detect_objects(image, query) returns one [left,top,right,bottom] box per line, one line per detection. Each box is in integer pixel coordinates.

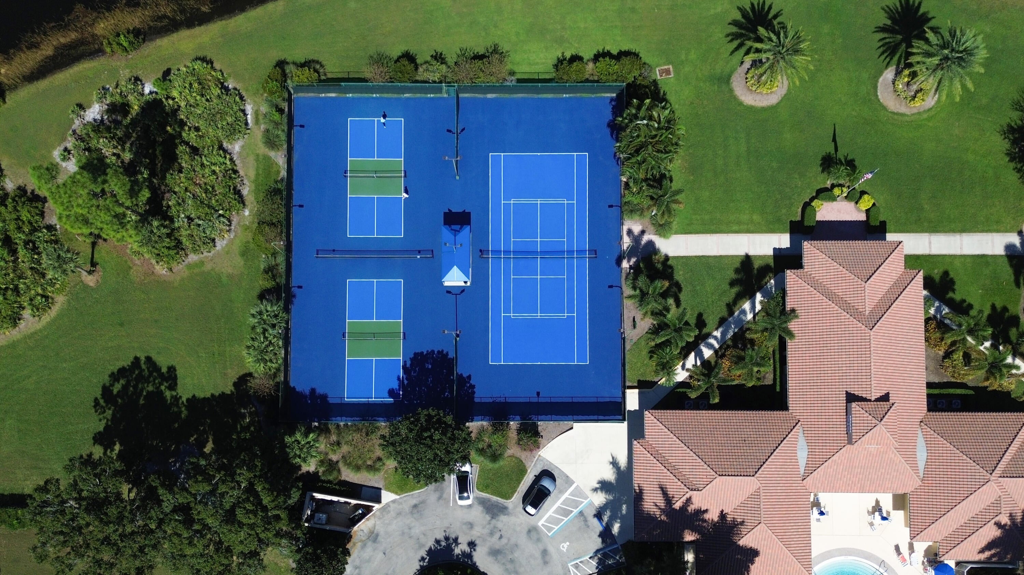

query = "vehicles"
[523,474,555,518]
[455,462,473,506]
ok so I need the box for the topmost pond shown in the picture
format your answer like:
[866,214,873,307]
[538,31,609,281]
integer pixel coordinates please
[0,0,310,104]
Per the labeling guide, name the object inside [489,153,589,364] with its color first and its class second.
blue tennis court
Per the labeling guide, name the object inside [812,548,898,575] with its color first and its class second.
white swimming pool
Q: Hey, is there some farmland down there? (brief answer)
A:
No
